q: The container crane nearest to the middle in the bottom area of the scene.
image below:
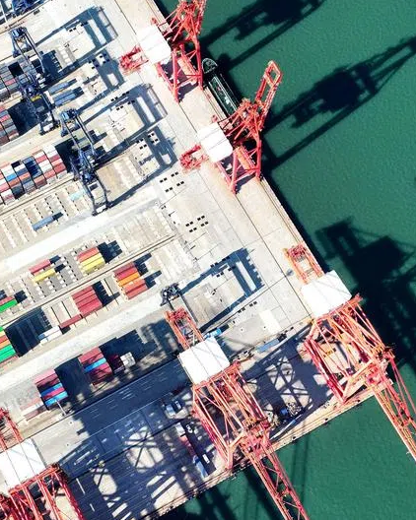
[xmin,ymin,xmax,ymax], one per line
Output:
[156,284,198,350]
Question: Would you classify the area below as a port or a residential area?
port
